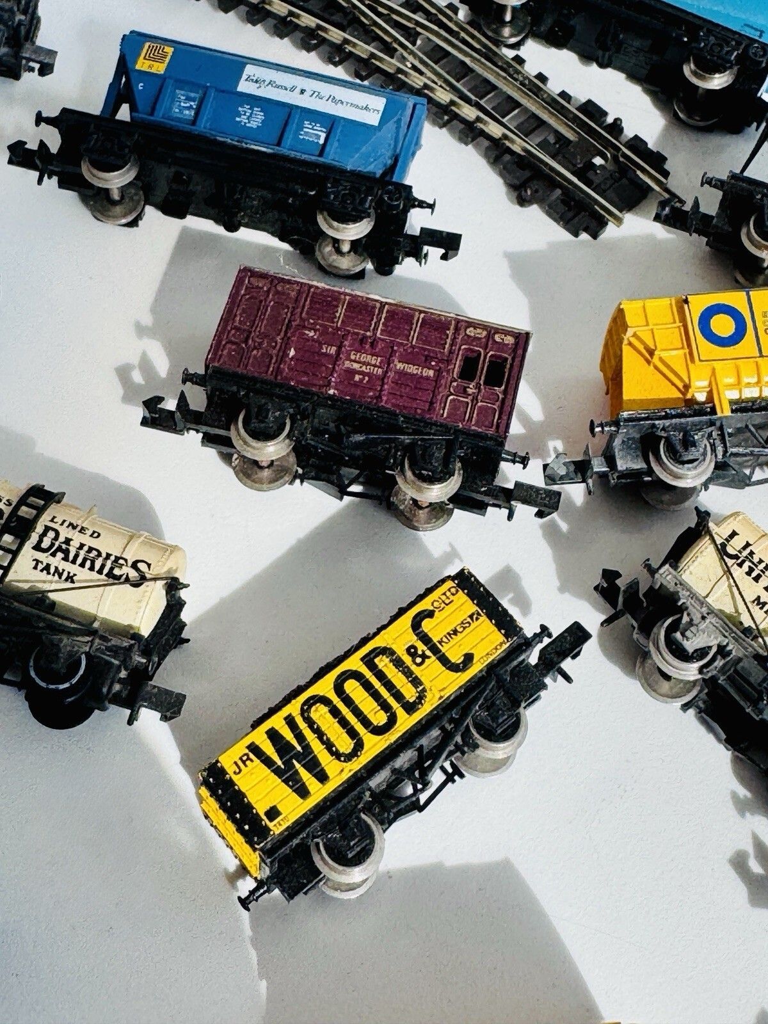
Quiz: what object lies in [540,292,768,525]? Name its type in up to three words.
rail car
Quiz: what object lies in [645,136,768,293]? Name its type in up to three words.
rail car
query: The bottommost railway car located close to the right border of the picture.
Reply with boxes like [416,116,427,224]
[588,510,768,780]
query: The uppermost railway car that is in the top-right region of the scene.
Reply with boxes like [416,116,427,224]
[431,0,768,138]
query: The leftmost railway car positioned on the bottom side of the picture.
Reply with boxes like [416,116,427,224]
[0,494,196,738]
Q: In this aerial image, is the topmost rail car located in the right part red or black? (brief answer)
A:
black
